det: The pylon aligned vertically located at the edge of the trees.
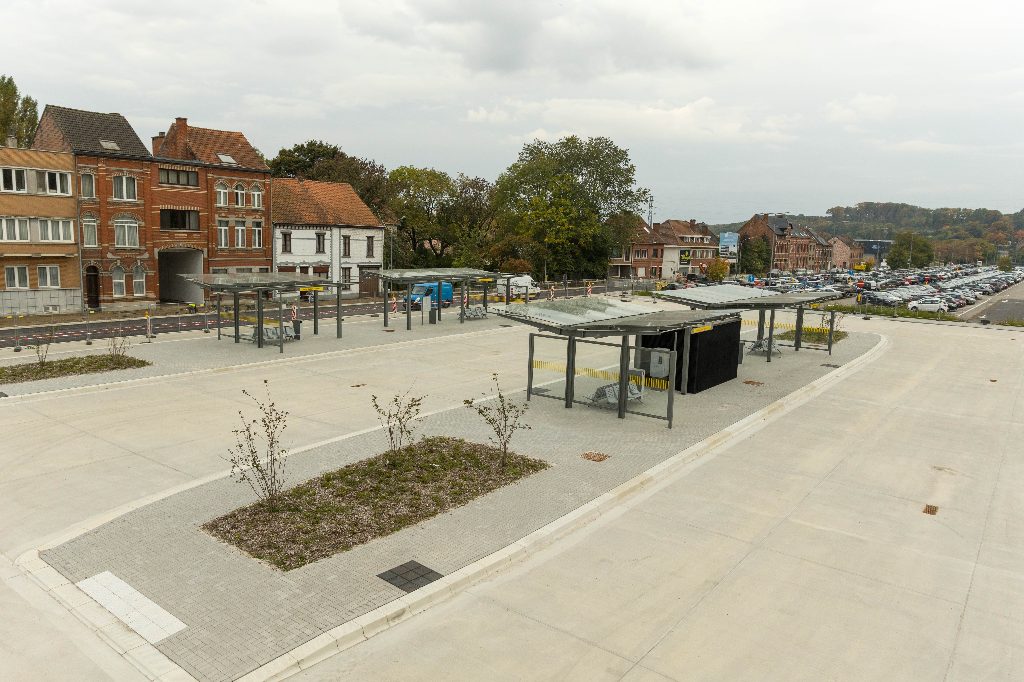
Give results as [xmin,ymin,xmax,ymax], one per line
[646,196,658,220]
